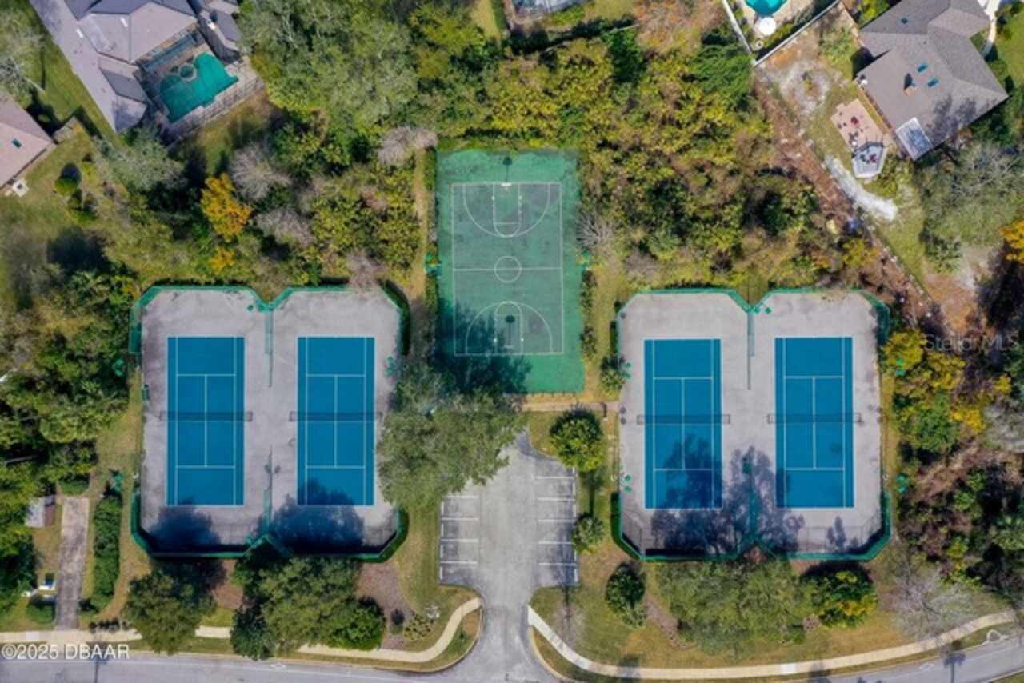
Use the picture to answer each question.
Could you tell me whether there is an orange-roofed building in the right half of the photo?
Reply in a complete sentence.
No, I see no orange-roofed building in the right half of the photo.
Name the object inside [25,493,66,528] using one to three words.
shed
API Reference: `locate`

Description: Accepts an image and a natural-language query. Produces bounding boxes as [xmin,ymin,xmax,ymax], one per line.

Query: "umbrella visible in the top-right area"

[758,18,774,34]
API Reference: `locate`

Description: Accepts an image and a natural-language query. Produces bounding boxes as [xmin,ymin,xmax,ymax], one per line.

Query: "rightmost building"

[850,0,1009,162]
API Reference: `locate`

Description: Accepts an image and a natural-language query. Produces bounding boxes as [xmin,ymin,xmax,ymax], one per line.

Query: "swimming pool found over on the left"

[159,51,240,123]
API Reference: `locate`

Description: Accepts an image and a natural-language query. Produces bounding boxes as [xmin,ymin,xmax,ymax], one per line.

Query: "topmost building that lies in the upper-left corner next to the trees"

[30,0,252,132]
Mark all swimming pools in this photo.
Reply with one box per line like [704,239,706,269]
[744,0,788,17]
[159,51,240,123]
